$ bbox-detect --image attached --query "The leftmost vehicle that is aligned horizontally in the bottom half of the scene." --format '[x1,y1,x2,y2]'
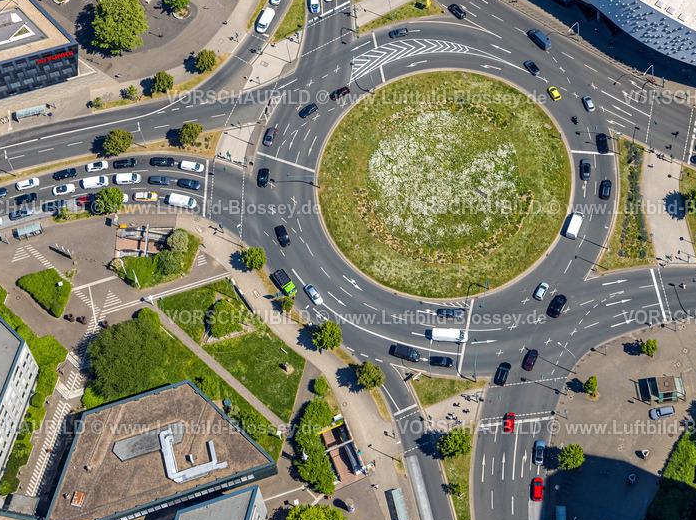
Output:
[391,344,421,361]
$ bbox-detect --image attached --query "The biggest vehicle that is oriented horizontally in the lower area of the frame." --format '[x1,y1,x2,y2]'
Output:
[432,326,468,344]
